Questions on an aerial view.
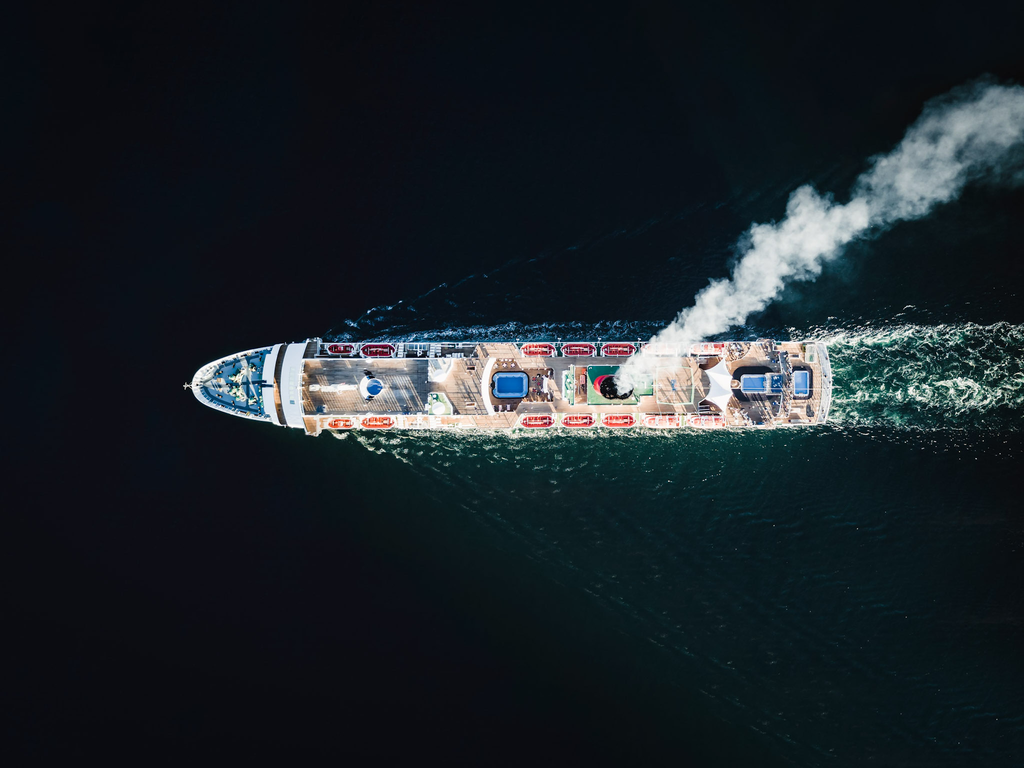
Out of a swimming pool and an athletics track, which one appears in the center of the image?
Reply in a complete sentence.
It is a swimming pool that can be seen in the center of the image.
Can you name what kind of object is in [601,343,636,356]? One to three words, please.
boat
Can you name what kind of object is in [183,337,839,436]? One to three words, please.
ship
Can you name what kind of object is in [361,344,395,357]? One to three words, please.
boat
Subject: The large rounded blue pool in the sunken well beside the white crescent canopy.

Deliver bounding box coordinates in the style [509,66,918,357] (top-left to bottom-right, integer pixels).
[489,371,529,398]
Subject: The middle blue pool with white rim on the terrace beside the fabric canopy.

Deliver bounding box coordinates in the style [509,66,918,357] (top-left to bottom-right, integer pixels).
[740,375,766,393]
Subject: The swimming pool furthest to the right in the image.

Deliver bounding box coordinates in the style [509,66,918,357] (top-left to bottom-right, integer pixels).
[794,371,809,396]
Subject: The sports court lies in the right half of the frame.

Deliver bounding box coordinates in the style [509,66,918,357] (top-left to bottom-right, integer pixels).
[651,366,700,416]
